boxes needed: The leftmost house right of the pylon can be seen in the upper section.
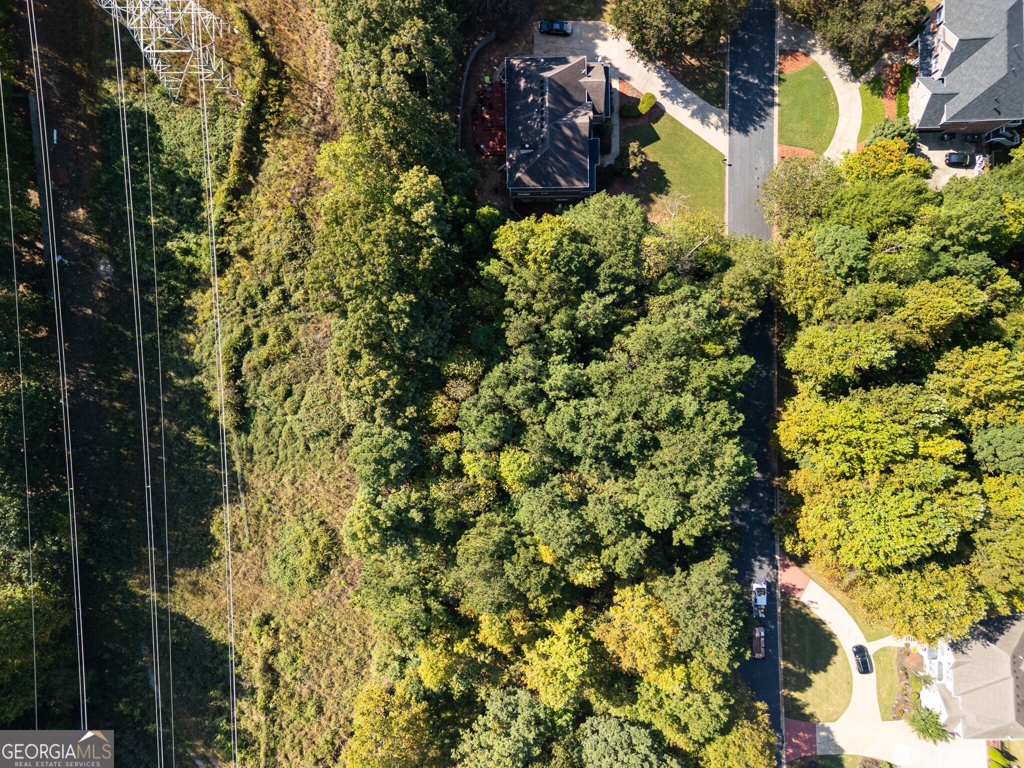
[505,55,610,200]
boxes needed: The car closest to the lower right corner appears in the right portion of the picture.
[852,642,872,676]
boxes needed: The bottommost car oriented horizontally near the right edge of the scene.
[943,153,974,168]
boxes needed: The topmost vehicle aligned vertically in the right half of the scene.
[751,578,768,618]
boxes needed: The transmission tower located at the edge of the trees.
[98,0,244,105]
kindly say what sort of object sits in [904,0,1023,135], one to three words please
house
